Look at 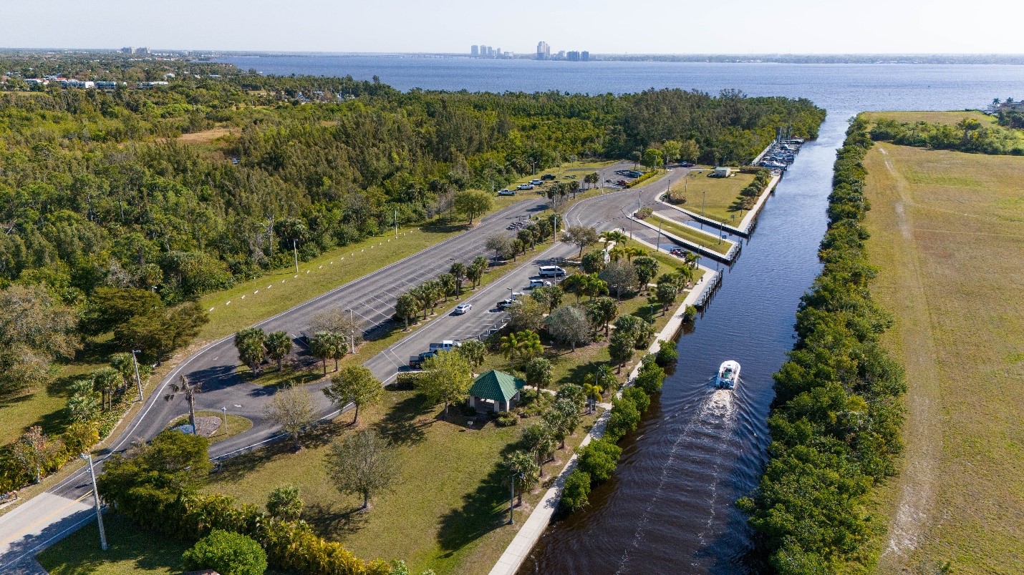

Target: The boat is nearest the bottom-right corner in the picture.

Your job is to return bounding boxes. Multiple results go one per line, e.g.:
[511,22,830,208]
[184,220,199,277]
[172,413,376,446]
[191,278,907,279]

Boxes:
[713,360,740,389]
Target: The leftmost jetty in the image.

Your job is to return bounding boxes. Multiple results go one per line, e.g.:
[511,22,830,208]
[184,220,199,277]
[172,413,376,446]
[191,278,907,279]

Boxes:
[694,272,727,310]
